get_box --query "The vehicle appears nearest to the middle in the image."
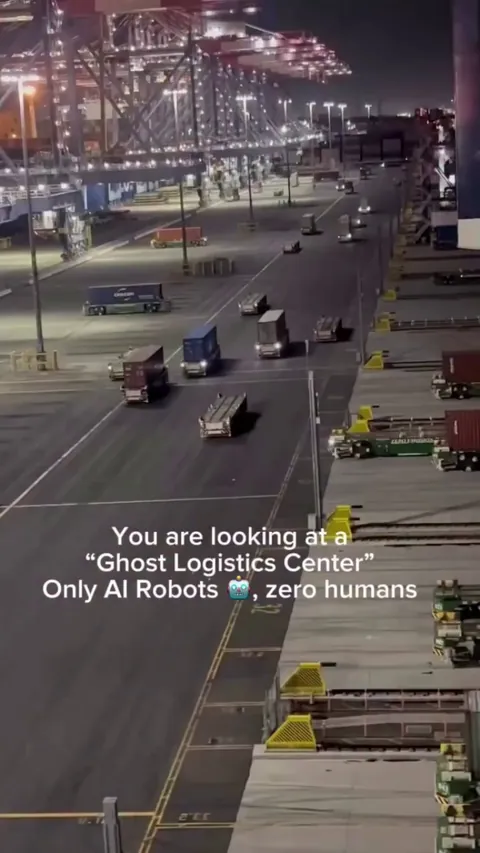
[199,392,245,433]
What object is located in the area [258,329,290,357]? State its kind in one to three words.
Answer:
vehicle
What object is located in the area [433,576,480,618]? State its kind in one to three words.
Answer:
vehicle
